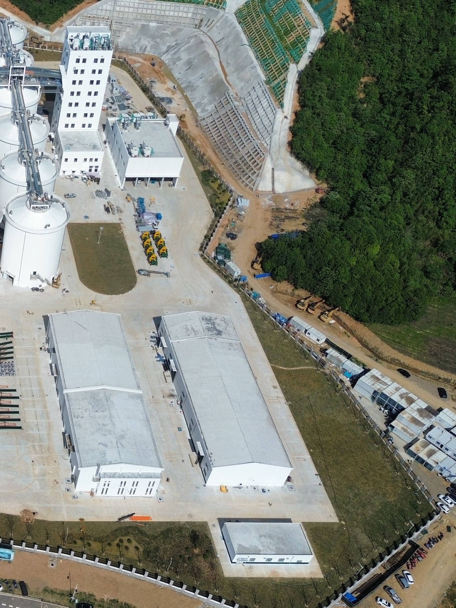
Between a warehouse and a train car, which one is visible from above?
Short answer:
warehouse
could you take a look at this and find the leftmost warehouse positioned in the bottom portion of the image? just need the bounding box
[45,309,166,496]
